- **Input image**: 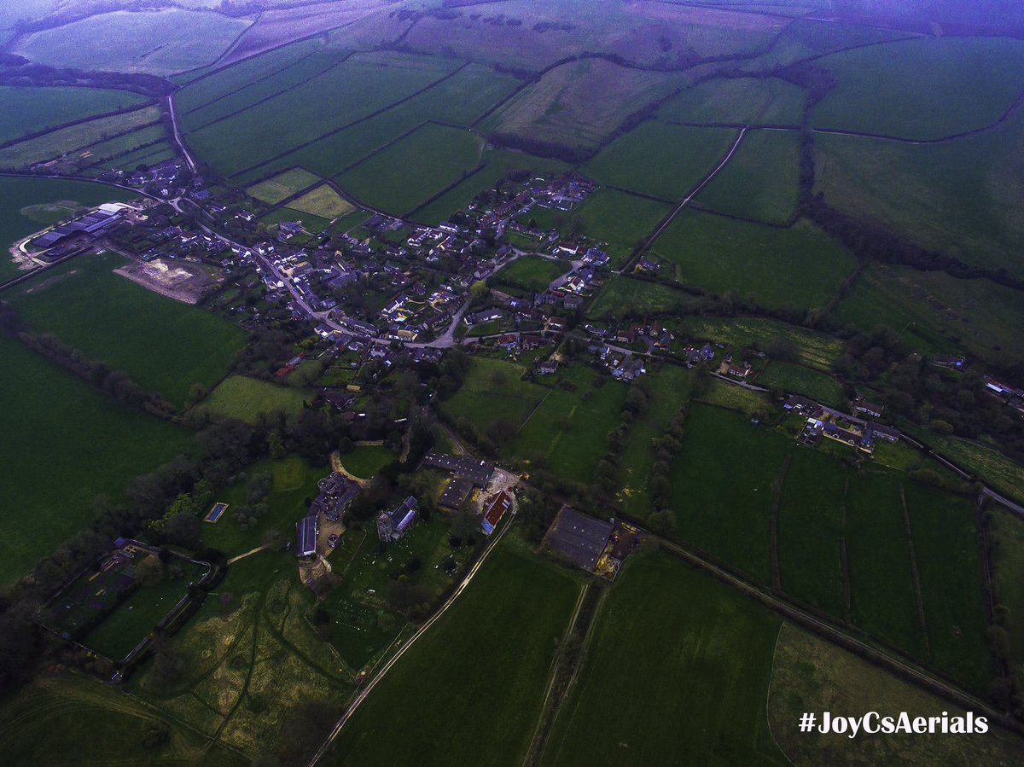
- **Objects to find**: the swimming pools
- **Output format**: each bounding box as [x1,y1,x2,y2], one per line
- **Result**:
[204,503,228,522]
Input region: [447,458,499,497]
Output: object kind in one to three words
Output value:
barn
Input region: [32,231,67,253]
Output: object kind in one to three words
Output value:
barn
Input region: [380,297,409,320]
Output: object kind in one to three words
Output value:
house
